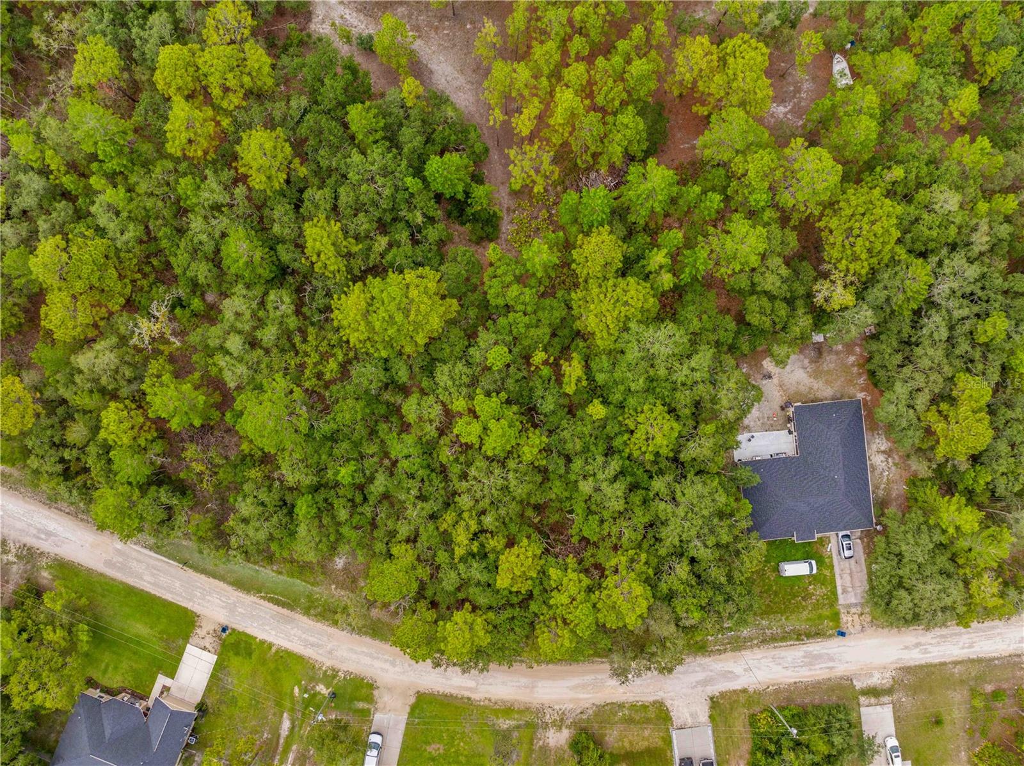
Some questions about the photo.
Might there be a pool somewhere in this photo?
No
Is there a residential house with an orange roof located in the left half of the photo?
No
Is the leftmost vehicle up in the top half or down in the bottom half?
bottom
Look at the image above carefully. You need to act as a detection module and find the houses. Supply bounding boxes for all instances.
[736,398,875,544]
[51,688,201,766]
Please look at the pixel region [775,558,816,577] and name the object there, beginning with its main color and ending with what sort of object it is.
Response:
white vehicle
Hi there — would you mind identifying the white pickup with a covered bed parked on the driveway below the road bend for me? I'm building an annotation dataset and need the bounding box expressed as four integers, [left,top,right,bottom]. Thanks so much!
[365,730,385,766]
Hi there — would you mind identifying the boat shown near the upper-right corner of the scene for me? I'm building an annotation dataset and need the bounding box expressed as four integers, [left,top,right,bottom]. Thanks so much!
[835,53,854,90]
